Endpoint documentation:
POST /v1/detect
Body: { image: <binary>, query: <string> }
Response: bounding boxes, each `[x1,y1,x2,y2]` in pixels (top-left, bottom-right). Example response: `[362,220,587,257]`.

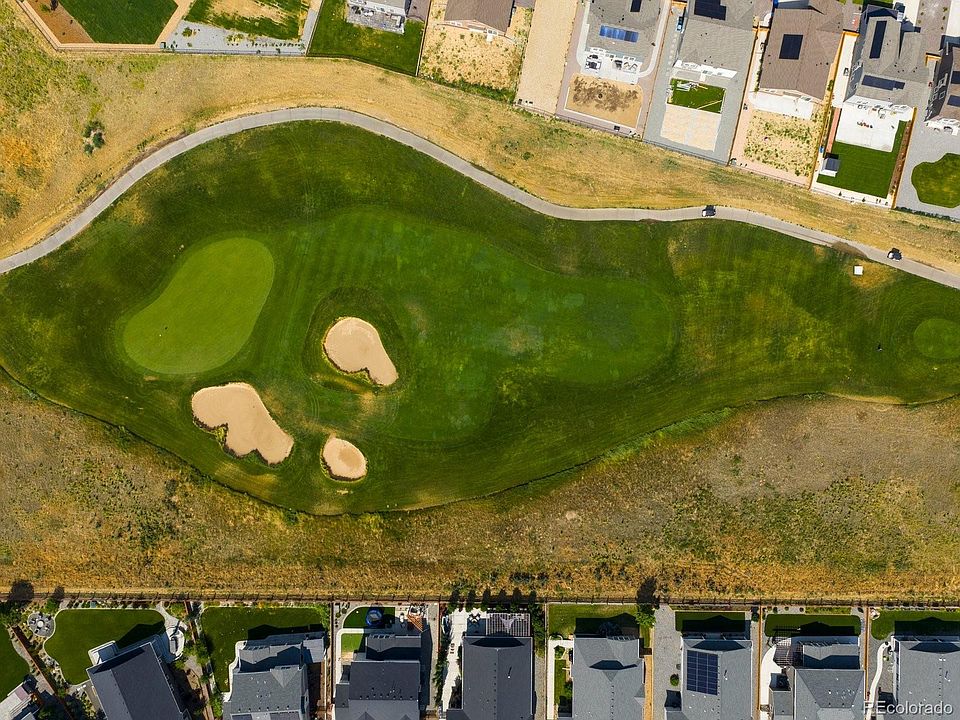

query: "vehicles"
[700,210,717,218]
[884,252,903,262]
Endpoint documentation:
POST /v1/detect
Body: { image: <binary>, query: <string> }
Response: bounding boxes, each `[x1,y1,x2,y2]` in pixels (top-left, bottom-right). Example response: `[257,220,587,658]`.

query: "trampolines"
[364,608,383,630]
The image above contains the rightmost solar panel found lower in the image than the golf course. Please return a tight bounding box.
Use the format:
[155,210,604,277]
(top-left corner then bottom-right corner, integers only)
[687,651,717,696]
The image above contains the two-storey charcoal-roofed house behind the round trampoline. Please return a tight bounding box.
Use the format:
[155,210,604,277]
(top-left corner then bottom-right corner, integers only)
[334,633,422,720]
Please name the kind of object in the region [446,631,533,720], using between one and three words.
house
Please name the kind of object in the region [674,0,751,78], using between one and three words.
house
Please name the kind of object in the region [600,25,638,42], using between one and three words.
solar panel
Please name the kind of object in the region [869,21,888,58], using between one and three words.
solar panel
